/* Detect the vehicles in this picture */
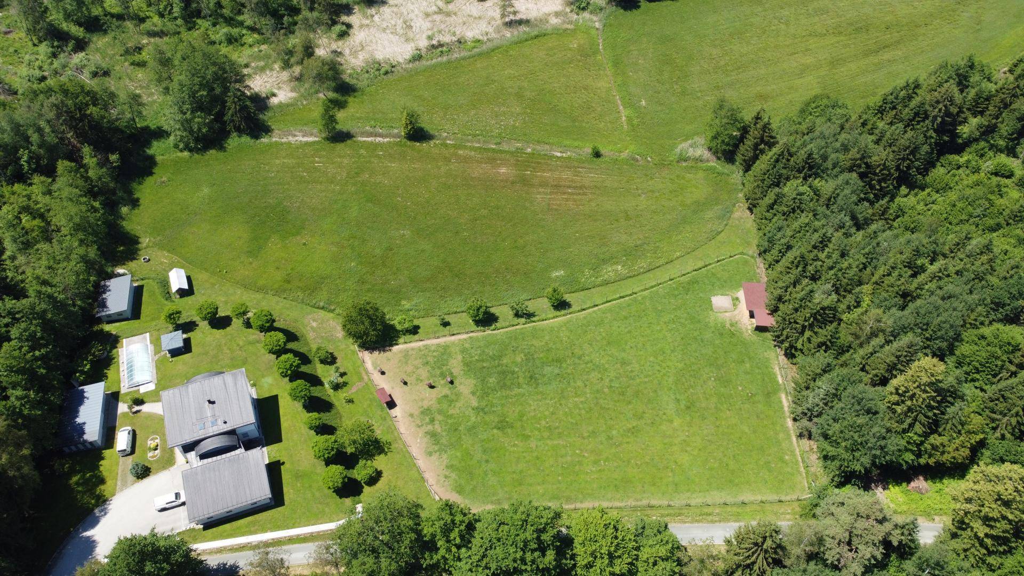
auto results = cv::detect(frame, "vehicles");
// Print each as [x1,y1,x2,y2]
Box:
[152,490,185,511]
[114,428,134,457]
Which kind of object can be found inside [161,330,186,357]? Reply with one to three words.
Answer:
building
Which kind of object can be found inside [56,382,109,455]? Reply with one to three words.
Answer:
shed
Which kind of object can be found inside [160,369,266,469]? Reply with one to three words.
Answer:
house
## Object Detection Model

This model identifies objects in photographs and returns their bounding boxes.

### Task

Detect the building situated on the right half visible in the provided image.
[741,282,772,334]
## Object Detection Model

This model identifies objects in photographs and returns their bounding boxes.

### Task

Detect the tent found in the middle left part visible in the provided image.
[170,268,191,297]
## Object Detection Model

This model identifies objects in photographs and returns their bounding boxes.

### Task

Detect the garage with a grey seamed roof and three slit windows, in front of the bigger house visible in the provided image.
[181,447,273,525]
